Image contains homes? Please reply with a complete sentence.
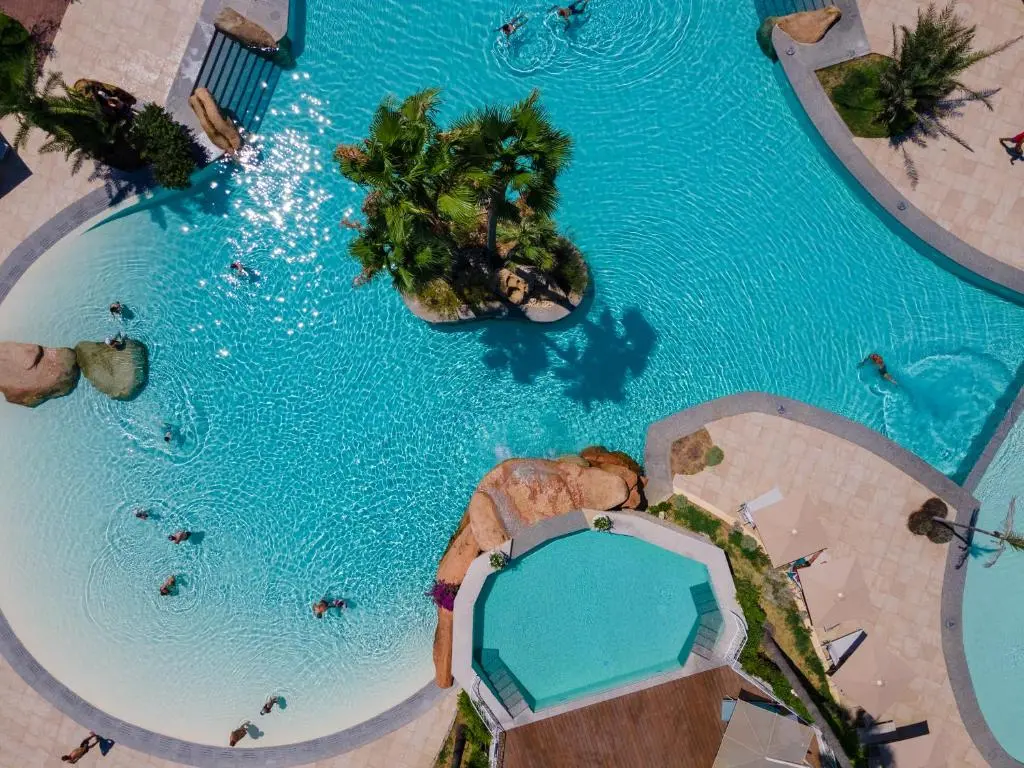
No, there appears to be no home in this shot.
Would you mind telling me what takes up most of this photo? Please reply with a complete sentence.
Most of the picture is covered by water.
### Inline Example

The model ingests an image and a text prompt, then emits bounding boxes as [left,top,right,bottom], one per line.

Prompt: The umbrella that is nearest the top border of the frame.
[753,493,828,568]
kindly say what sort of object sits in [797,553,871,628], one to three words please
umbrella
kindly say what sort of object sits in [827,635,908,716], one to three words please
umbrella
